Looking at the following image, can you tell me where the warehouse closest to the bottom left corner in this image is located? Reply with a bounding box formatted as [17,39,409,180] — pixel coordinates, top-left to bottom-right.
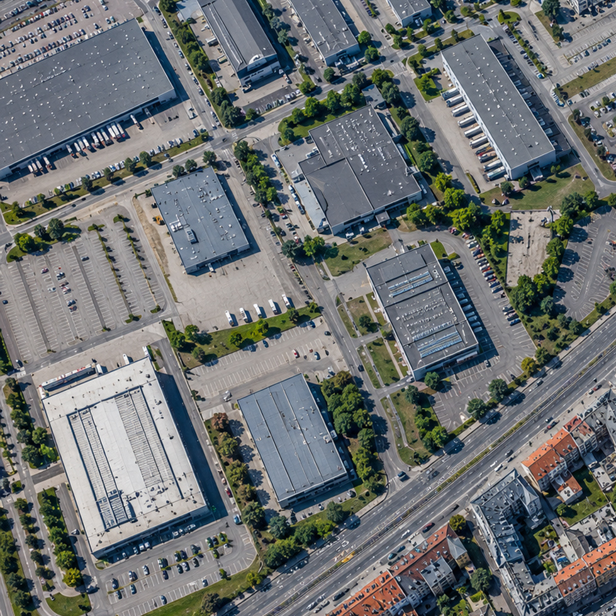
[41,356,210,562]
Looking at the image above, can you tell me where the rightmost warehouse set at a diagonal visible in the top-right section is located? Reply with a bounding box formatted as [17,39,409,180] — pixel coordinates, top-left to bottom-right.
[441,33,555,179]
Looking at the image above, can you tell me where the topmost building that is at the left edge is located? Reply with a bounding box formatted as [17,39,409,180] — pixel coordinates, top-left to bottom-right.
[0,18,177,182]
